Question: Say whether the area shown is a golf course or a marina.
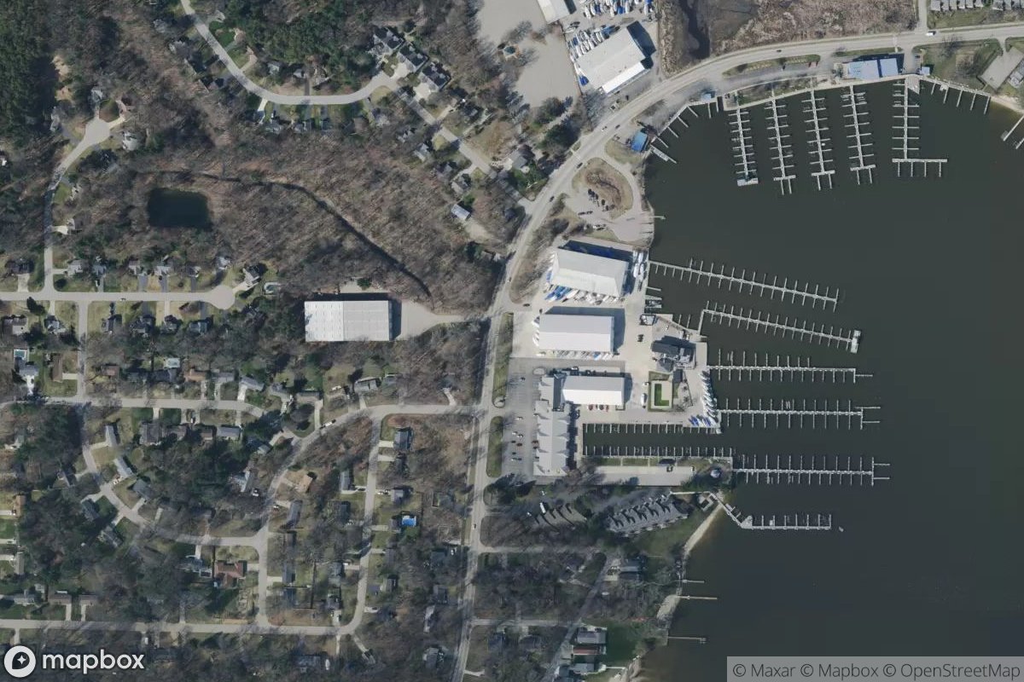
marina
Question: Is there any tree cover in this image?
Yes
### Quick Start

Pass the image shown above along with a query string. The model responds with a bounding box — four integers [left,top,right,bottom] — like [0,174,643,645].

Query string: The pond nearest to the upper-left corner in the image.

[147,187,212,229]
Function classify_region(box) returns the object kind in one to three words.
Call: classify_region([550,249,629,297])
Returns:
shed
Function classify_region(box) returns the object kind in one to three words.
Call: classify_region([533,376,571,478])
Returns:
building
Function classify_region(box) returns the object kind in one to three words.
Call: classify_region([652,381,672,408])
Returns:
swimming pool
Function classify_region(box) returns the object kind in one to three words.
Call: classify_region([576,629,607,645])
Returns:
house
